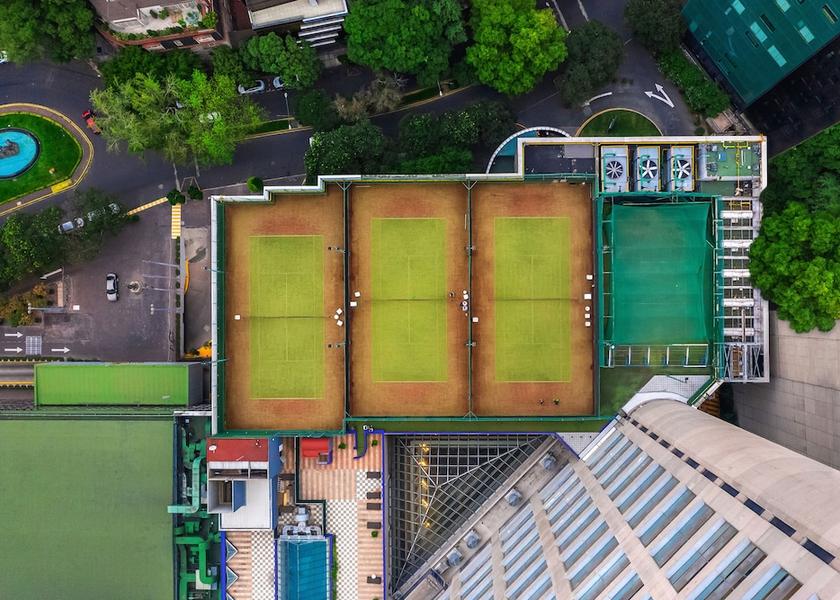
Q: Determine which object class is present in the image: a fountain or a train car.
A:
fountain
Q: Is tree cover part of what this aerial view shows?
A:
Yes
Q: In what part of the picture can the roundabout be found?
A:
top left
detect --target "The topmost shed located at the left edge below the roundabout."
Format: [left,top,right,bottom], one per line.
[34,360,206,405]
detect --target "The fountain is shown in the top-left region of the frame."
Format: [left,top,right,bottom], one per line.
[0,126,39,179]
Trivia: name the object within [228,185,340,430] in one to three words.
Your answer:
tennis court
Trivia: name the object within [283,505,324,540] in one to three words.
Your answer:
fountain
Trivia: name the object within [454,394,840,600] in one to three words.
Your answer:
building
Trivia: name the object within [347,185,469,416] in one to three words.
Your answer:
tennis court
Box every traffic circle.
[0,104,93,215]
